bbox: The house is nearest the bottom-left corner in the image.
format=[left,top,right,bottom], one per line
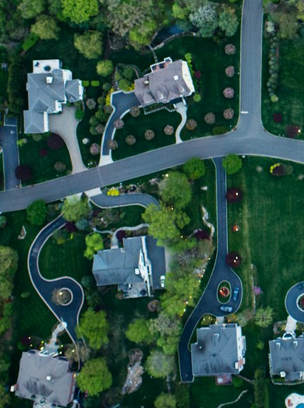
[10,348,79,408]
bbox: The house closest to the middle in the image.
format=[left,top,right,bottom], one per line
[92,236,153,296]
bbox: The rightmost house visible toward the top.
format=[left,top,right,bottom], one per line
[133,57,194,109]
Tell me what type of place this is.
residential area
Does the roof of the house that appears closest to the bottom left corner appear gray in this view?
Yes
